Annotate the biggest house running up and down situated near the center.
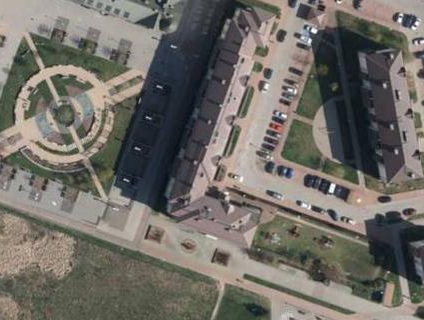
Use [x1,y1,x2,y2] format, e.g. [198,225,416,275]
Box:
[162,7,278,248]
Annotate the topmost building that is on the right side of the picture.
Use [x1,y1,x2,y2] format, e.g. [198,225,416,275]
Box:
[297,2,326,26]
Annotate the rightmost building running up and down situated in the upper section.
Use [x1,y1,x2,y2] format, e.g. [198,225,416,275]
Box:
[356,50,423,182]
